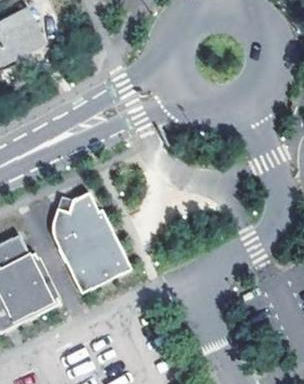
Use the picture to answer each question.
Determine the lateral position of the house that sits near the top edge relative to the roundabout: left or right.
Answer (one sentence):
You can see the house that sits near the top edge positioned to the left of the roundabout.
